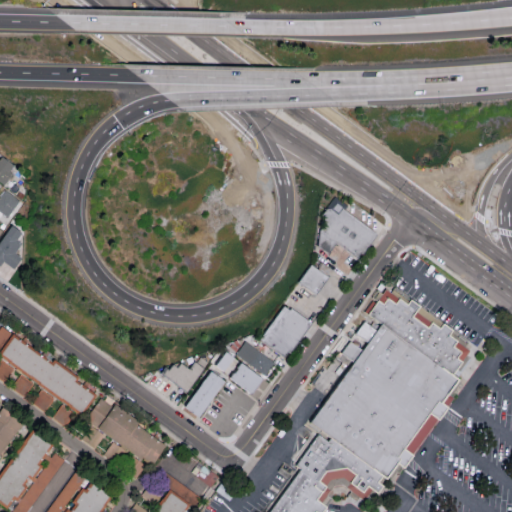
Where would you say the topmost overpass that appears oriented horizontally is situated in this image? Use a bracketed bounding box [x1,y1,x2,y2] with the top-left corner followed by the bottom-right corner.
[50,6,258,38]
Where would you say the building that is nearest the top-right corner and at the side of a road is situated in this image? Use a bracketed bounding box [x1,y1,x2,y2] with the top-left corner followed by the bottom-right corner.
[320,196,378,258]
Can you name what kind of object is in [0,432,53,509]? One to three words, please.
building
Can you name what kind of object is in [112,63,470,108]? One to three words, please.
overpass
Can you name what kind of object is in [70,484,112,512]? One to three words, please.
building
